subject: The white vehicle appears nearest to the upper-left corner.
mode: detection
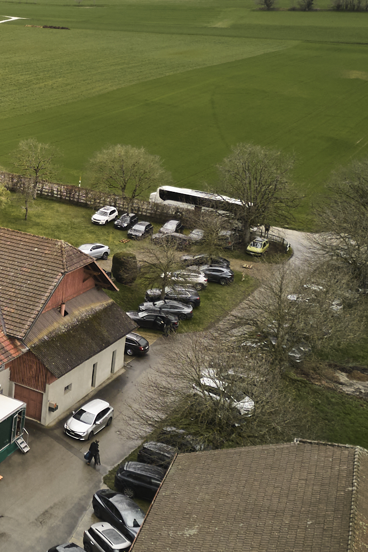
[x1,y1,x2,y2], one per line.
[92,205,117,227]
